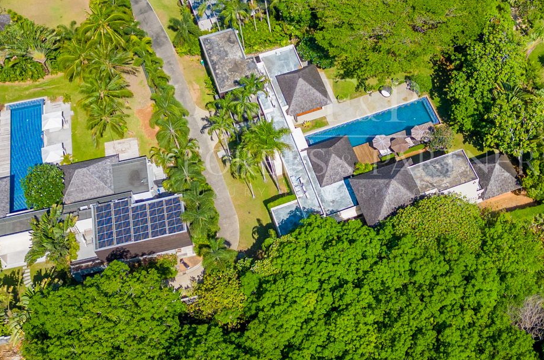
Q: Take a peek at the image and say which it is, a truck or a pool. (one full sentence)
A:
Visible in the photo is a pool.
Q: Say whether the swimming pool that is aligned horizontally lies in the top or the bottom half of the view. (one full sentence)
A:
The top half of the photo is where the swimming pool that is aligned horizontally is.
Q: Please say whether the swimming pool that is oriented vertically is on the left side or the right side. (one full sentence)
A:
The swimming pool that is oriented vertically appears in the left half of the scene.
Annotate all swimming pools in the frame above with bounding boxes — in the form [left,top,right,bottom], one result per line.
[303,94,449,155]
[7,96,50,214]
